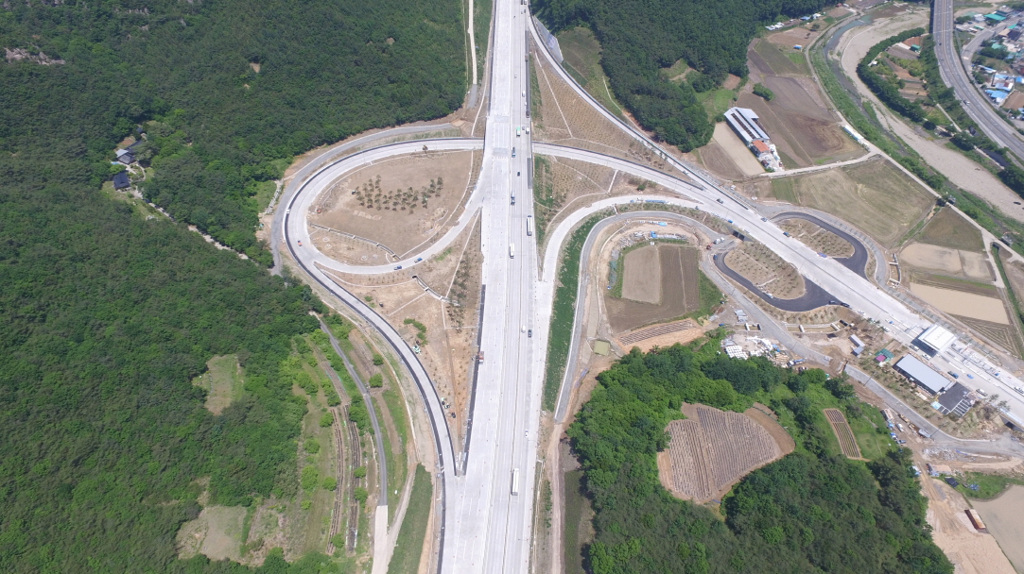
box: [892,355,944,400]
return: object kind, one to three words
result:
building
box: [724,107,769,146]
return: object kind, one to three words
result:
shed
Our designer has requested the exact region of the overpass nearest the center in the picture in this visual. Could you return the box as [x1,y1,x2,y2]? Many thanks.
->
[483,115,533,157]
